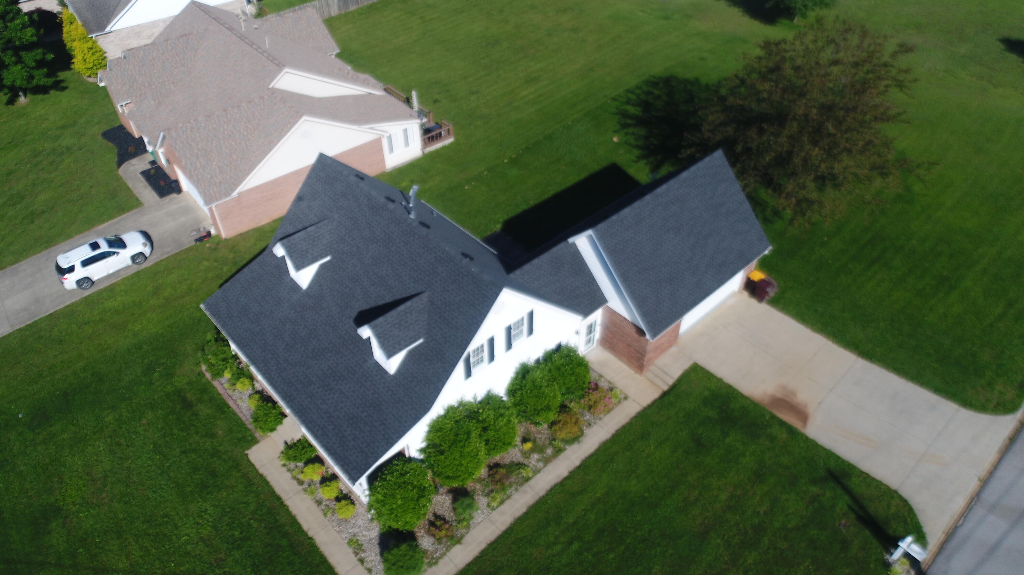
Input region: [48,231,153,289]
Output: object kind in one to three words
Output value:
car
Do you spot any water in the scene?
No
